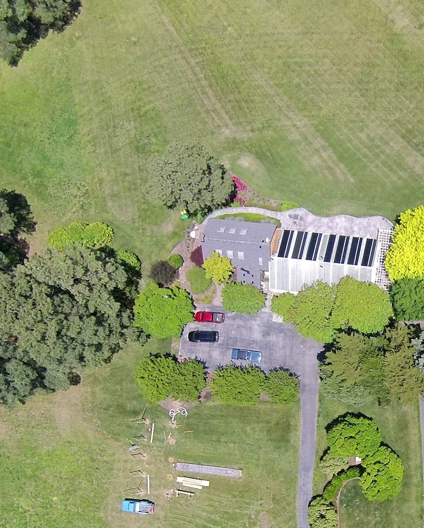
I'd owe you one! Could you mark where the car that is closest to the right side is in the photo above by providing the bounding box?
[230,349,262,362]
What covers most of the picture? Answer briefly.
grass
